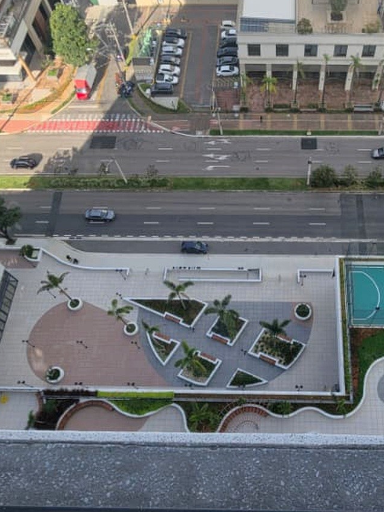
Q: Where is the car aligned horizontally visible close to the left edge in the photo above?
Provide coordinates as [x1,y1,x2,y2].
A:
[9,157,37,170]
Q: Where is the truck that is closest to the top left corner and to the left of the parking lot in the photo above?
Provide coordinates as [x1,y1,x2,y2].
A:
[73,61,98,100]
